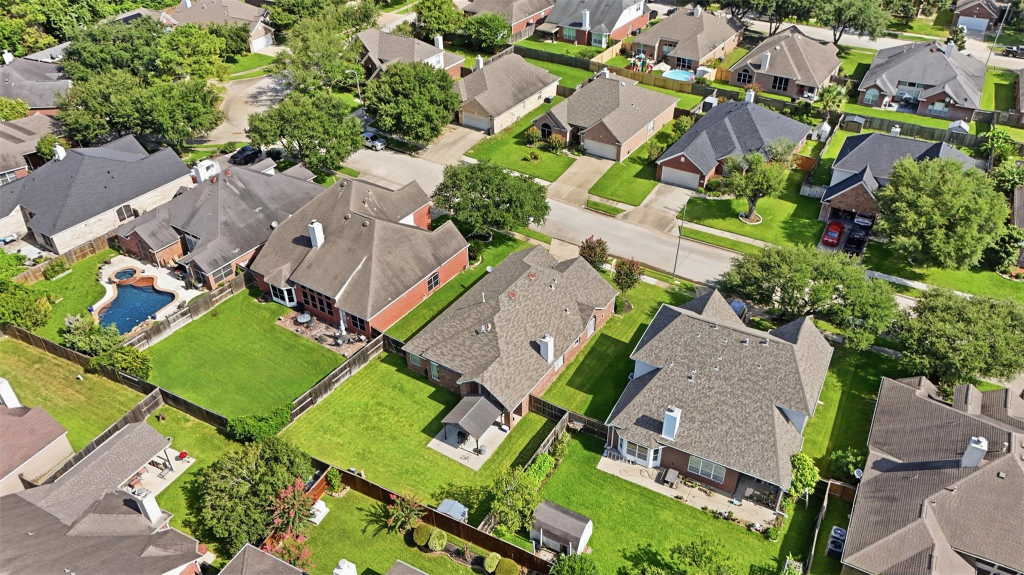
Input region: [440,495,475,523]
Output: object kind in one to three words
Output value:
shed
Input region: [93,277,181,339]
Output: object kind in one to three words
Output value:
swimming pool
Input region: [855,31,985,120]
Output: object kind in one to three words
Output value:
house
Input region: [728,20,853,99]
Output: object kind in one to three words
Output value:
house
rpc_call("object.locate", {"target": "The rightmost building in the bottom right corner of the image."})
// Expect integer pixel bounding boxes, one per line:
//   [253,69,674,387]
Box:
[839,375,1024,575]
